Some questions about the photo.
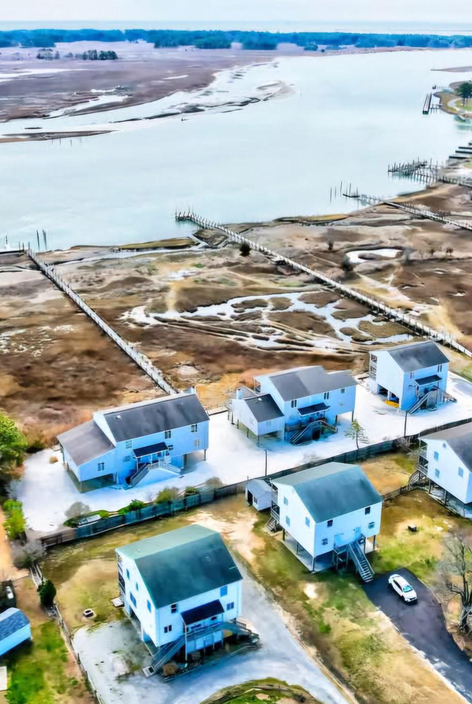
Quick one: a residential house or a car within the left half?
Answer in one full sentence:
Visible within the left half is a residential house.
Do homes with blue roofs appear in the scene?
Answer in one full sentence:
Yes, I can see a home with a blue roof in this picture.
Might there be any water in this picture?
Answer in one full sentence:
Yes, water shows up in the scene.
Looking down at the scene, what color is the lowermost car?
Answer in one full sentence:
In this view, the lowermost car is white.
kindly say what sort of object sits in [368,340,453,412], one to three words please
house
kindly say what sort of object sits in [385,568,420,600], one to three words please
car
